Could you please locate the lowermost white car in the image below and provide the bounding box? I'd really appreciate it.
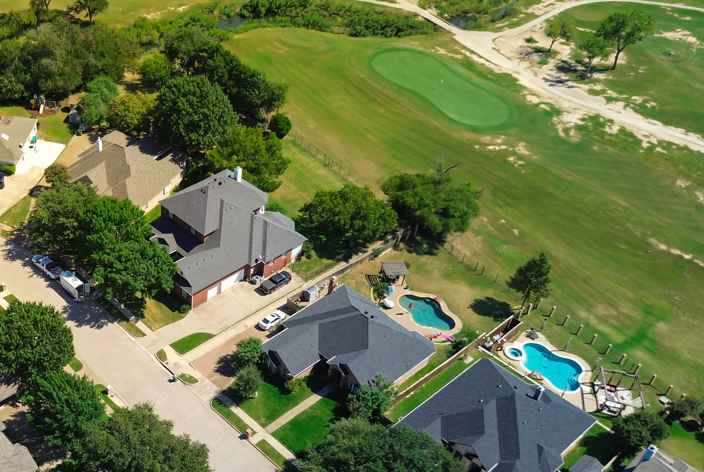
[258,311,286,328]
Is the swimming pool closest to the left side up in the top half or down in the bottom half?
bottom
